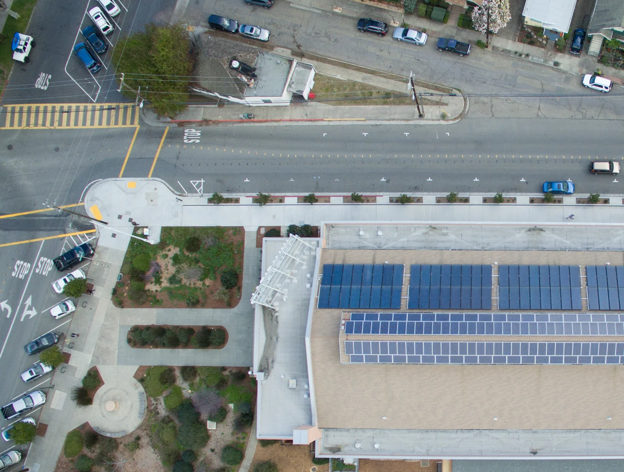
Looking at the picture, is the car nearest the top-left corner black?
No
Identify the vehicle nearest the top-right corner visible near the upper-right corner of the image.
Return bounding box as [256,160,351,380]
[571,27,586,56]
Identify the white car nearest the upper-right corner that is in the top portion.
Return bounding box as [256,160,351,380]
[582,74,614,93]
